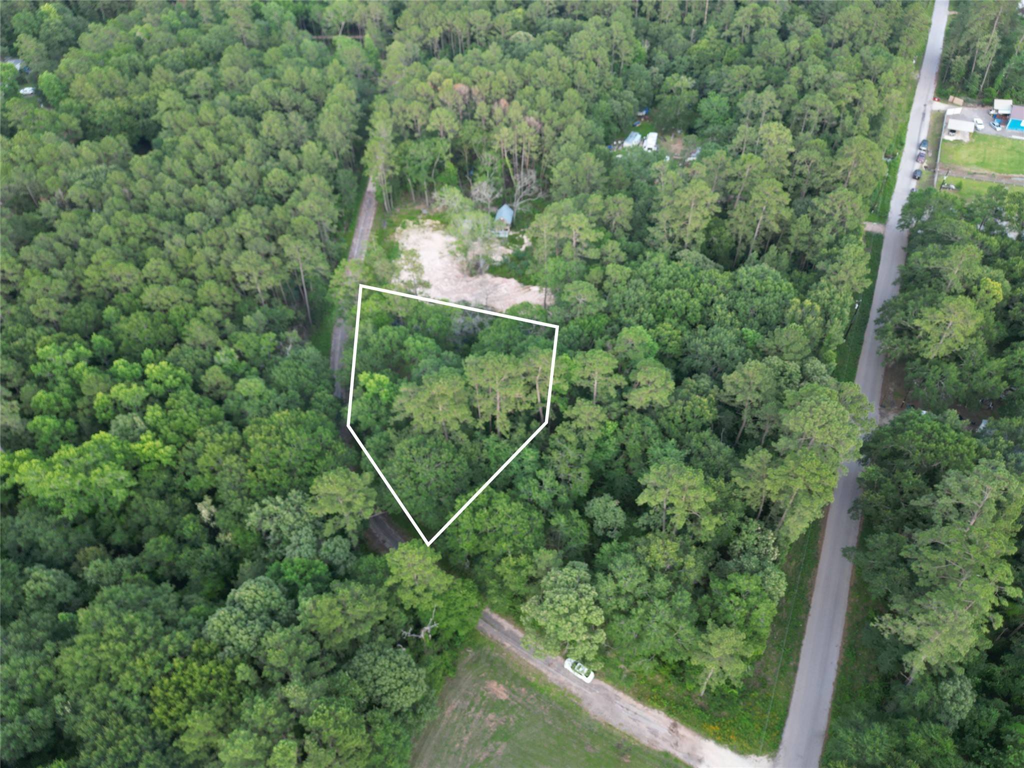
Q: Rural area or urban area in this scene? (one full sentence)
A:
The area shown here is rural.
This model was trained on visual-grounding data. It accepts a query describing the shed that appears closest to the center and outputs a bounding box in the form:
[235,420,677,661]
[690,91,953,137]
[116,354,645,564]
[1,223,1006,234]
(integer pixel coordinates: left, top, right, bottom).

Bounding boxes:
[495,207,513,236]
